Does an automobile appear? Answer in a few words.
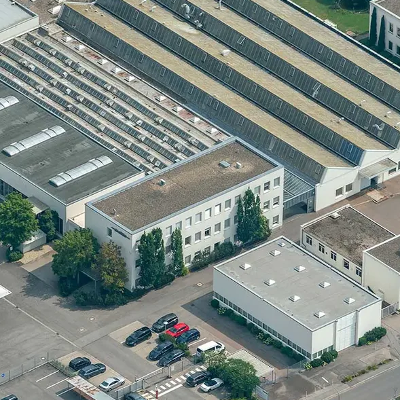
Yes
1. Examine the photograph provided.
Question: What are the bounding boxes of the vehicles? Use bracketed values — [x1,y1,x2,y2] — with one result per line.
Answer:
[176,327,202,342]
[125,326,154,345]
[157,347,187,366]
[198,378,222,394]
[77,363,107,380]
[149,341,175,359]
[98,377,126,394]
[184,369,213,387]
[167,319,192,334]
[195,337,227,354]
[67,355,93,371]
[152,311,179,331]
[123,392,146,400]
